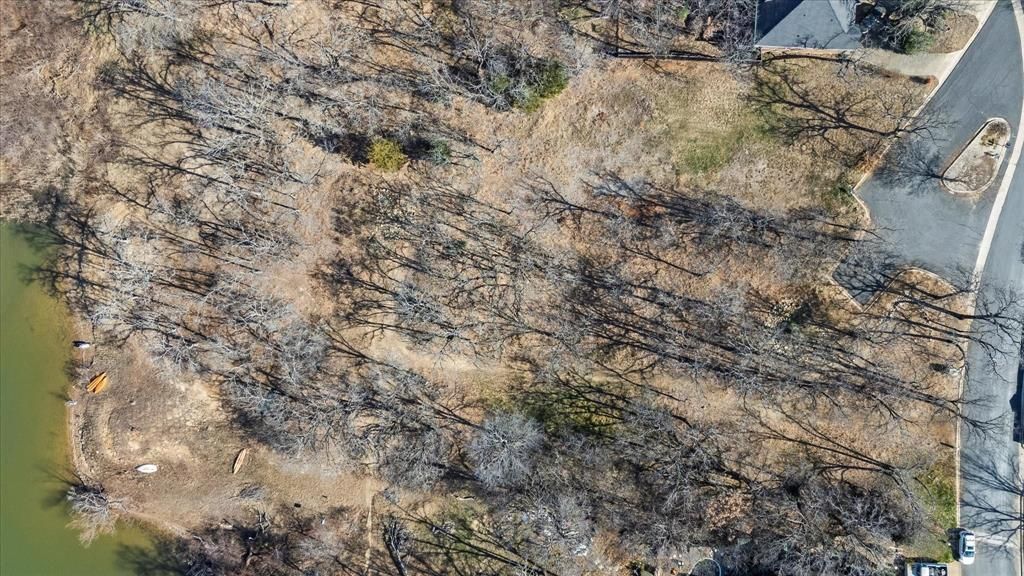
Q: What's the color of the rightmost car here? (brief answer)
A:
white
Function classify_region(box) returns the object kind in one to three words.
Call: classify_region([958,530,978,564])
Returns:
car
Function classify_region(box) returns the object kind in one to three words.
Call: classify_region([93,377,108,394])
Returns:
boat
